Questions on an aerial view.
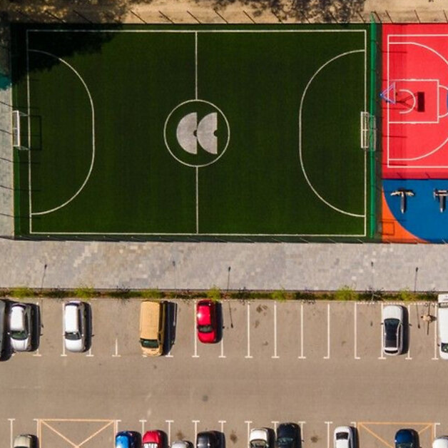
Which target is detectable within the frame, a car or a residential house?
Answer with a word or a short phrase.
car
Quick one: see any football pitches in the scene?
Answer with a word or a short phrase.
Yes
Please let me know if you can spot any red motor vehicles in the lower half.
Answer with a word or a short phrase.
Yes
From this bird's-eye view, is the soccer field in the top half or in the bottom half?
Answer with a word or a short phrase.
top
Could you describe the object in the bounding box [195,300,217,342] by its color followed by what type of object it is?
red car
